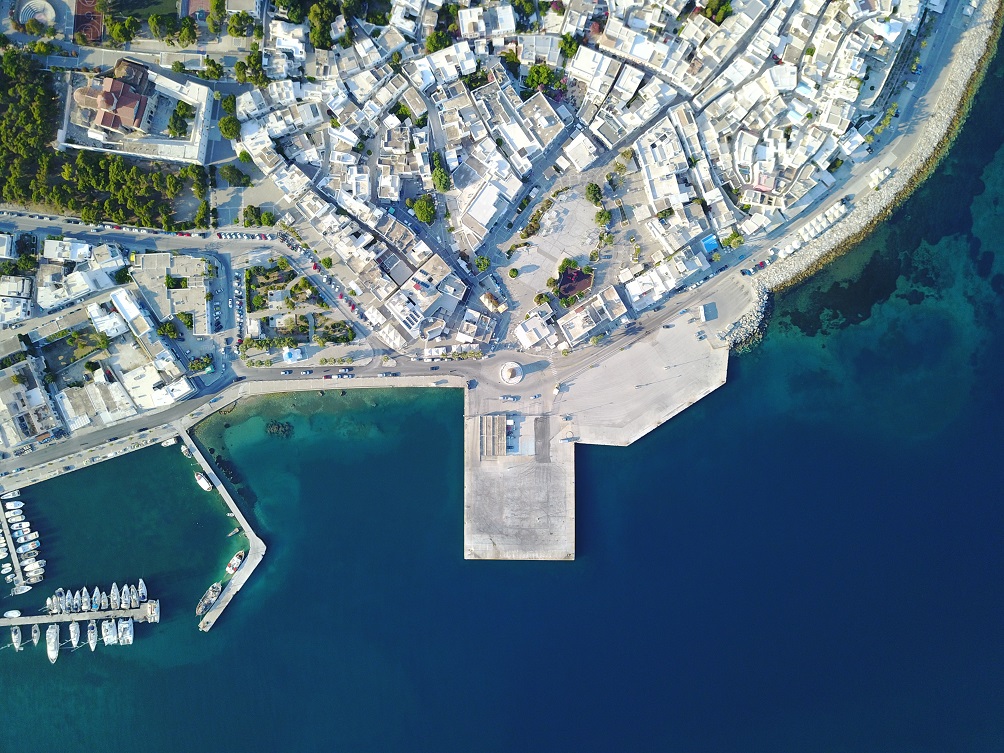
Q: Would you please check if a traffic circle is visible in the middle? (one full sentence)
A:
Yes, there is a traffic circle in the middle.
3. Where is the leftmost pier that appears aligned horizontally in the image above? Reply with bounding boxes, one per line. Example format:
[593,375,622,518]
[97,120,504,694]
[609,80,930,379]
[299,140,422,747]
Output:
[0,601,159,626]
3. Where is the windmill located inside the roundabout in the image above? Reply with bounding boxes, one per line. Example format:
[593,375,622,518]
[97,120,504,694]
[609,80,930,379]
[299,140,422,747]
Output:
[500,361,524,384]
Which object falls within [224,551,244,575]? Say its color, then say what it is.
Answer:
white boat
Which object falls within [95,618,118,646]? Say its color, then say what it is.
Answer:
white boat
